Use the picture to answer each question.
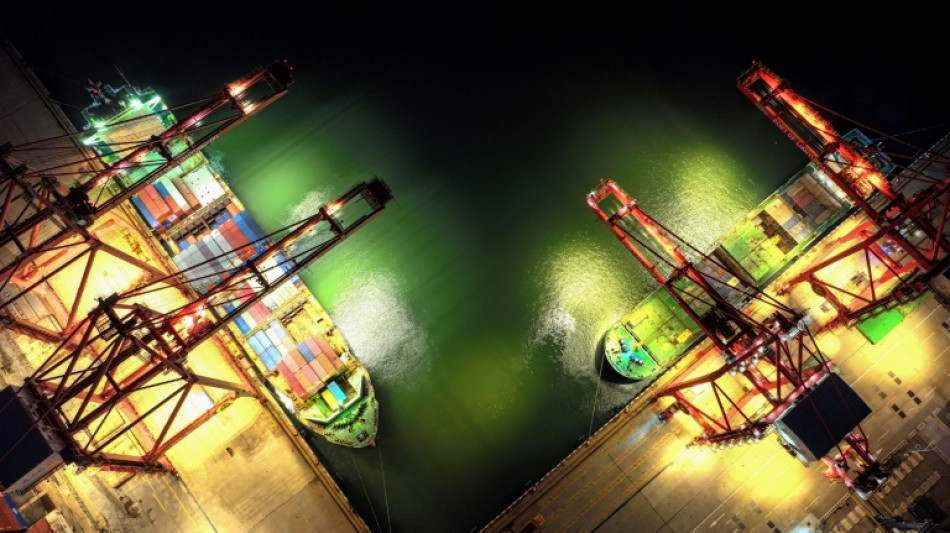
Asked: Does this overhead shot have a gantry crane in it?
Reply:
Yes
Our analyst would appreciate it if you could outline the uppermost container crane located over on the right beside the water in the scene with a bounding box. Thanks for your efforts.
[731,56,950,333]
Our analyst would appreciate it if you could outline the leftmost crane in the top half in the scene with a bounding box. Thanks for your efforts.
[0,55,295,355]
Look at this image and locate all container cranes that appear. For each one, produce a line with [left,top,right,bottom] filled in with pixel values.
[0,55,295,355]
[731,56,950,333]
[577,167,897,507]
[0,168,397,501]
